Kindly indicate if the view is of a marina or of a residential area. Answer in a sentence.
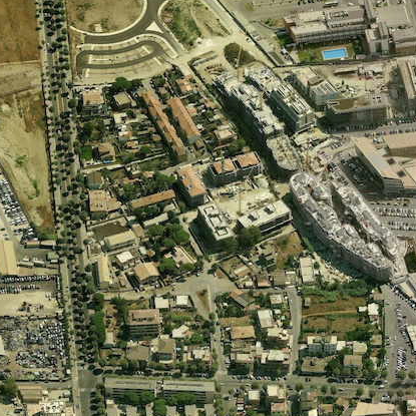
This looks like a residential area.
